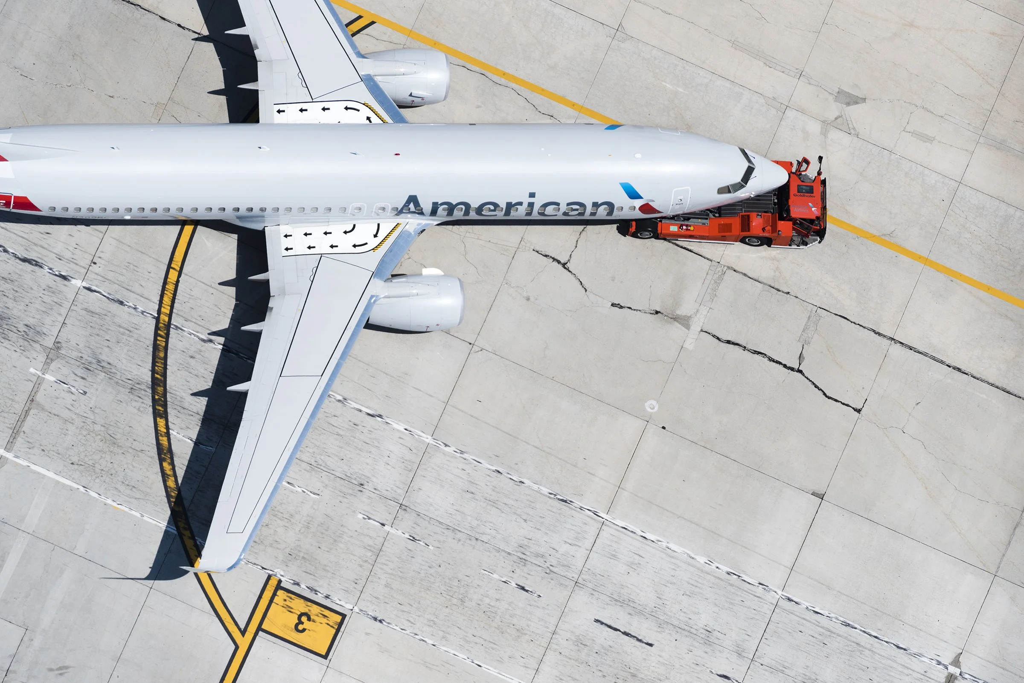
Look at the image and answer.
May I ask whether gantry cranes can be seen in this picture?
No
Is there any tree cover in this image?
No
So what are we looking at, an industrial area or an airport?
airport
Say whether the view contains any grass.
No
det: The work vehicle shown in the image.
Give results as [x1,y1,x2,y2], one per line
[616,152,827,247]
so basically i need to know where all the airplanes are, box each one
[0,0,786,570]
